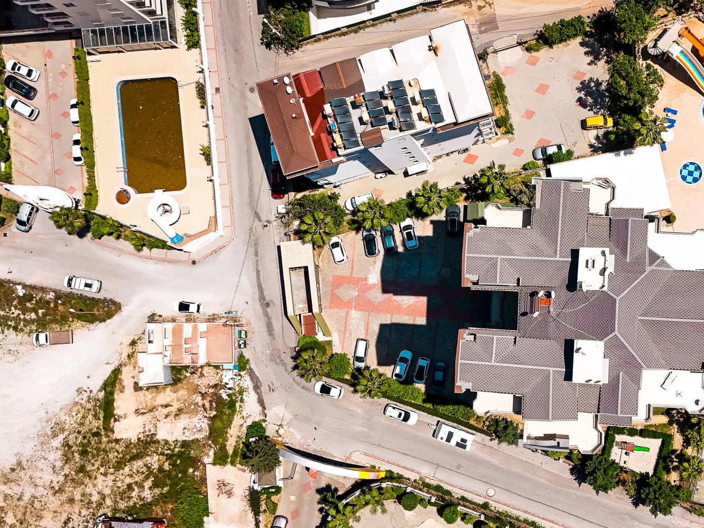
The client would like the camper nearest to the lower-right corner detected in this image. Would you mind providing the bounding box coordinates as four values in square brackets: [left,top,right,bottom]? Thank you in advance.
[429,422,477,451]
